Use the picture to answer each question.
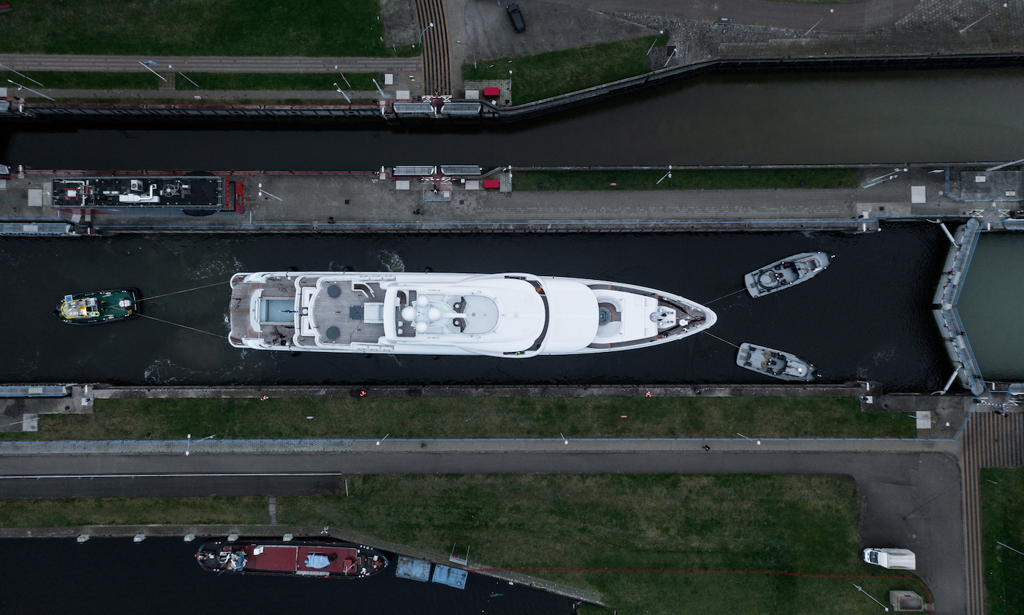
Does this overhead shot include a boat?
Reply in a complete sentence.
Yes, a boat appears in the view.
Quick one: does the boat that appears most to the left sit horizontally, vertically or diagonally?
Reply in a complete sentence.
What the image shows is the boat that appears most to the left lying horizontally.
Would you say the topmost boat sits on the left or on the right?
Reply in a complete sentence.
The topmost boat sits on the right side.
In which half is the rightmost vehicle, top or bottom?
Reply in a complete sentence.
It is in the bottom half that the rightmost vehicle appears.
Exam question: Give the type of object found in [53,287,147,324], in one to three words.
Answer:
boat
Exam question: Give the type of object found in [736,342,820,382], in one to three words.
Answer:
boat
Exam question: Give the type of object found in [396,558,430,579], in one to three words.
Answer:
pier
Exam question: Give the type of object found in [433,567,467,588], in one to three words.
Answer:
pier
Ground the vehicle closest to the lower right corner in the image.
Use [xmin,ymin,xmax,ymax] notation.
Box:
[863,548,915,570]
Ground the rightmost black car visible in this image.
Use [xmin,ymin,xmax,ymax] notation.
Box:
[507,3,524,33]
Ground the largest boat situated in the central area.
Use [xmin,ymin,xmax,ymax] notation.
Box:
[229,271,718,358]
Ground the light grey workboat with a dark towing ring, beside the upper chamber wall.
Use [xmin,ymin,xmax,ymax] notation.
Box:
[744,253,835,298]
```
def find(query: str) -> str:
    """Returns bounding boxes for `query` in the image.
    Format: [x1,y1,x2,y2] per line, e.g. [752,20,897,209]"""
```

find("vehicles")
[863,548,915,570]
[507,3,524,33]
